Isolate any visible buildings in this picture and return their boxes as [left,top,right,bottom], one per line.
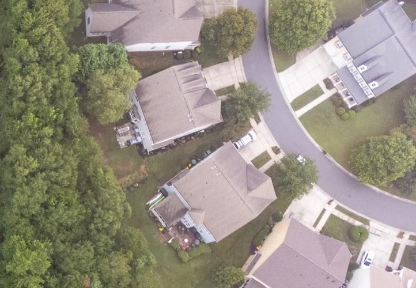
[323,0,416,107]
[237,217,353,288]
[127,61,224,153]
[151,141,278,243]
[346,265,416,288]
[85,0,204,51]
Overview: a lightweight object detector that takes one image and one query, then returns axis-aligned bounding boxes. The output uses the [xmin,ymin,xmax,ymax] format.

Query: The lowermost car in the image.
[358,247,376,268]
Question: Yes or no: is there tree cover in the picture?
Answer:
Yes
